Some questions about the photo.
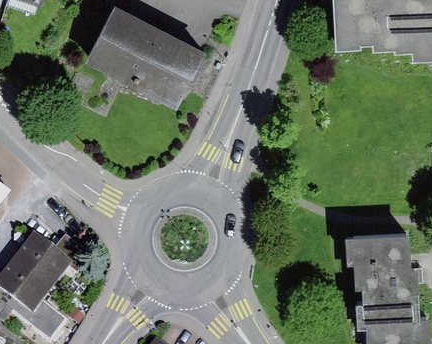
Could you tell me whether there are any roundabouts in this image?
Yes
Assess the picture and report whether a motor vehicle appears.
Yes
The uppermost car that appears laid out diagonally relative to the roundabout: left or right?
left of it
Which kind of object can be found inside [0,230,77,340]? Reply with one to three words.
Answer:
house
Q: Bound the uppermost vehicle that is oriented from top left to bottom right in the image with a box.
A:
[46,196,68,219]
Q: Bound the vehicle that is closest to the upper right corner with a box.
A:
[232,139,244,164]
